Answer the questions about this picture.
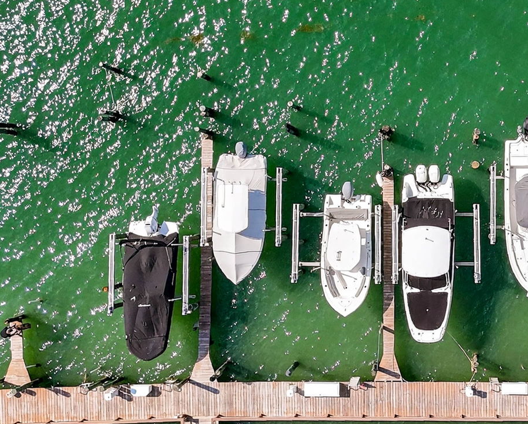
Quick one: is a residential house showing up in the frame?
No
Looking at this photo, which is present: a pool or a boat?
boat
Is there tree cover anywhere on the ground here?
No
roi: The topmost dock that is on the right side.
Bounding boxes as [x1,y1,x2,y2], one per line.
[375,180,402,382]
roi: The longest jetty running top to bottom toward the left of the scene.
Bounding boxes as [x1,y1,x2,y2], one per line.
[191,139,219,383]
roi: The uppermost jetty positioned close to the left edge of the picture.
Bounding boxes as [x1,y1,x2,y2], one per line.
[5,335,34,388]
